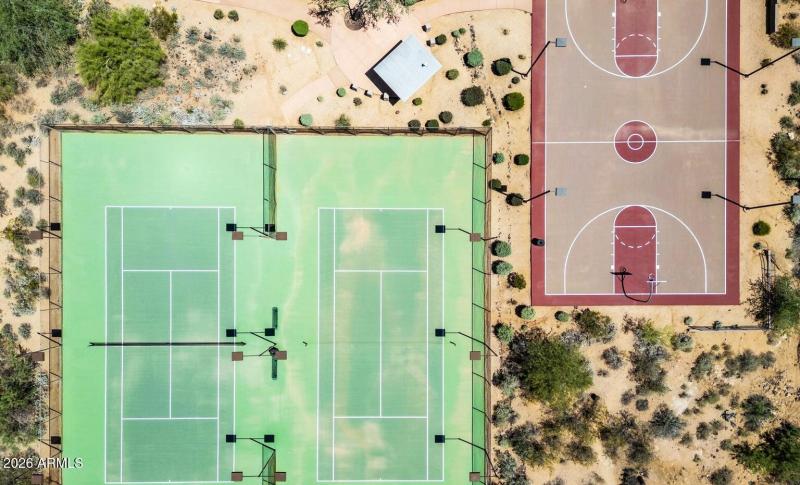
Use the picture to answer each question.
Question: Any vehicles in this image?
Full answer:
No, there's no vehicle here.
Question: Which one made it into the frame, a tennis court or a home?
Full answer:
The image shows a tennis court.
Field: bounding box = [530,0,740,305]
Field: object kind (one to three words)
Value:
basketball court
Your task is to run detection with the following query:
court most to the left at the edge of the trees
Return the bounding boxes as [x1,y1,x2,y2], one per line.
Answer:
[62,134,276,485]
